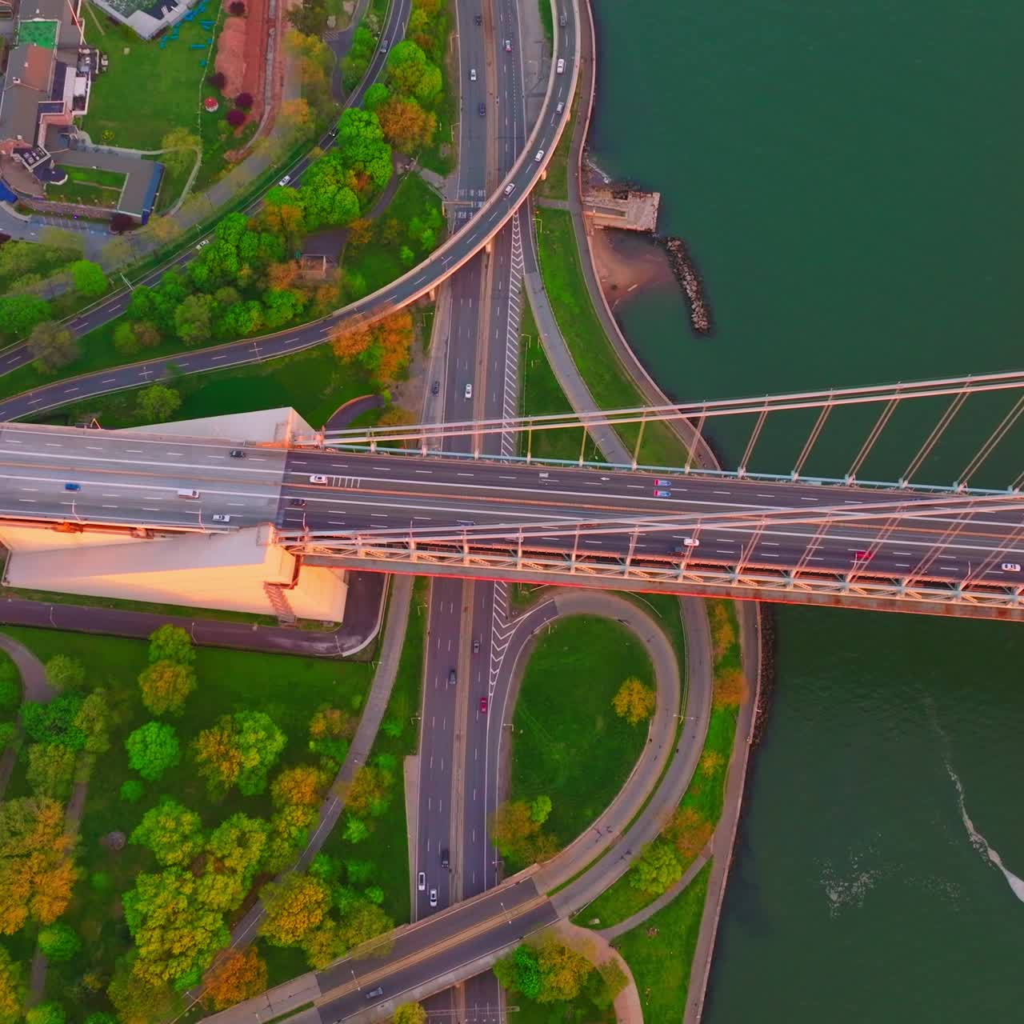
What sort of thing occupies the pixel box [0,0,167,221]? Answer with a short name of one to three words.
building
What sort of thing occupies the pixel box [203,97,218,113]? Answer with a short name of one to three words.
gazebo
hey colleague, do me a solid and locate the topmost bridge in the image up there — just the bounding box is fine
[321,0,581,336]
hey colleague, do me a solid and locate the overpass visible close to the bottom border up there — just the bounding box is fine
[314,862,562,1024]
